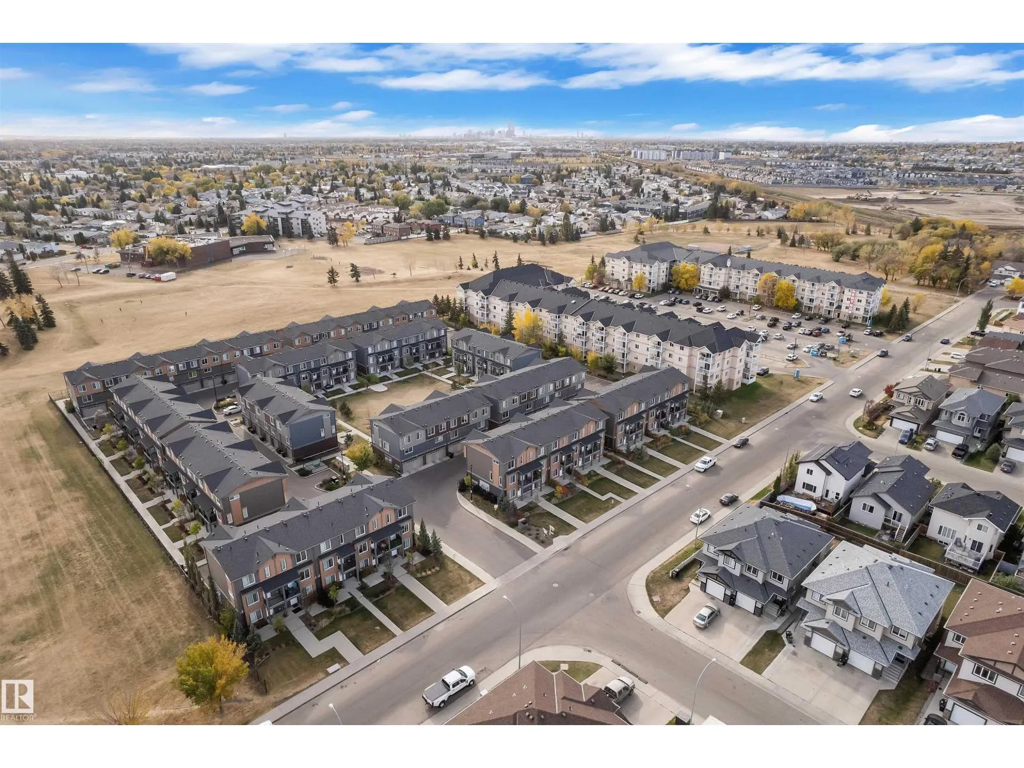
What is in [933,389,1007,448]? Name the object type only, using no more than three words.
house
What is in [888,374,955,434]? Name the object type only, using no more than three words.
house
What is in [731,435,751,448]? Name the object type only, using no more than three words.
vehicle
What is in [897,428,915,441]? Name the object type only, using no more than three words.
vehicle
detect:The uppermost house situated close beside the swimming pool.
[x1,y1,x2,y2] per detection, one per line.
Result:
[794,440,878,501]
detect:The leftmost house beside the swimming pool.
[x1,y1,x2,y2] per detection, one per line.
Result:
[686,504,834,624]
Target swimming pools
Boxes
[778,491,820,510]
